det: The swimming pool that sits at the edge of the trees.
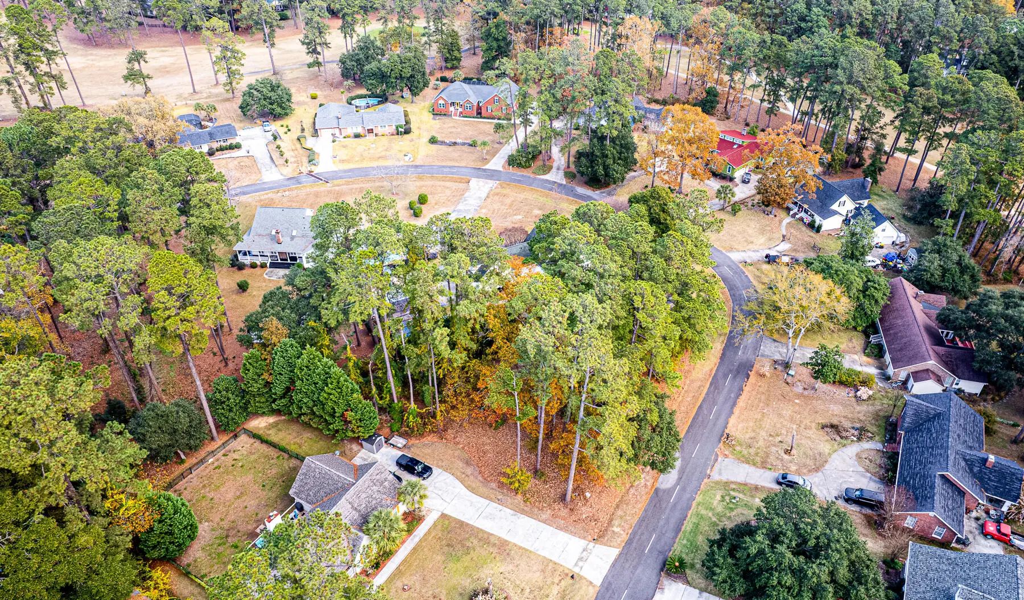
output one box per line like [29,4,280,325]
[349,95,384,113]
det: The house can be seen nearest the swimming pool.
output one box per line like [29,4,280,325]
[314,103,407,138]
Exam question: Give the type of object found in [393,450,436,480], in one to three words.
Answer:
truck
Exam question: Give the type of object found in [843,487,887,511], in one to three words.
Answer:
car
